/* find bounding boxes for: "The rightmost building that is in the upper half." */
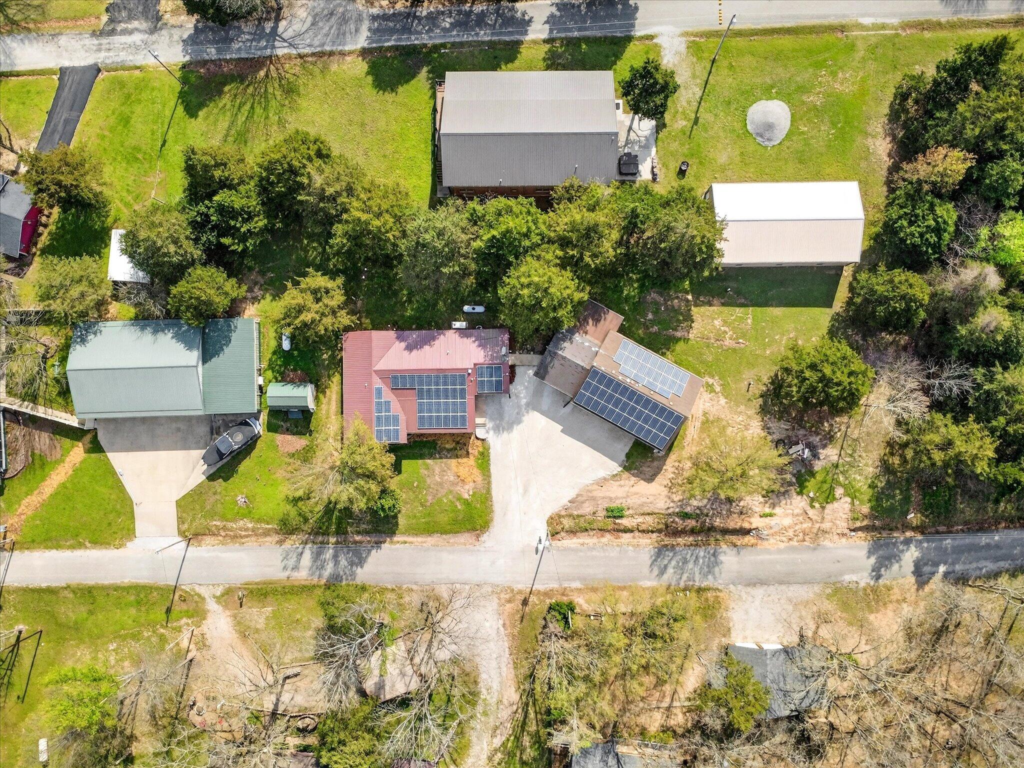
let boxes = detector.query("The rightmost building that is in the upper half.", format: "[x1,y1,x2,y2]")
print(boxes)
[703,181,865,269]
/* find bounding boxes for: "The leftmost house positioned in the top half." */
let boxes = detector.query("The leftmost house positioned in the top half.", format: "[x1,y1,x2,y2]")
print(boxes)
[0,173,40,257]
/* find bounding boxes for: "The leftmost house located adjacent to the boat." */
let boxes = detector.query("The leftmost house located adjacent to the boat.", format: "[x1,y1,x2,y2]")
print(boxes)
[66,318,265,418]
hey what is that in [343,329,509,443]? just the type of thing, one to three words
house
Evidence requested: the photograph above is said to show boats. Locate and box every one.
[202,418,265,462]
